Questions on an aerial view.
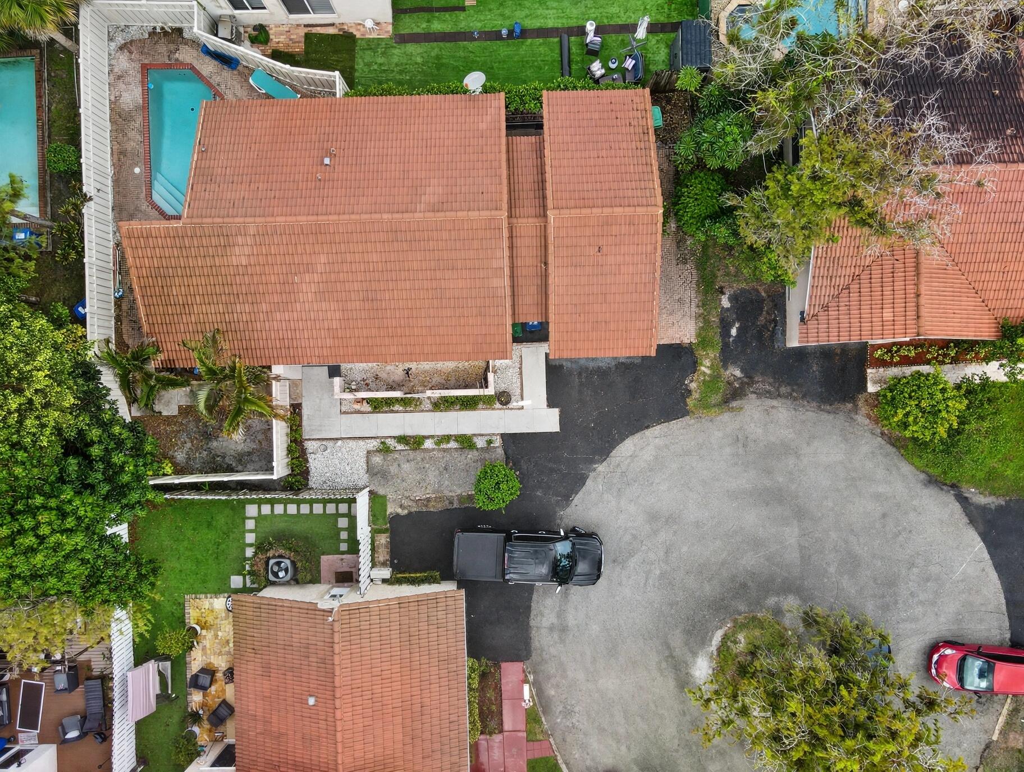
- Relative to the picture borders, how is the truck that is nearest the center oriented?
from side to side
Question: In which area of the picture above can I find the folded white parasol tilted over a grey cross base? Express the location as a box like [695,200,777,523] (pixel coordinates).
[622,16,648,50]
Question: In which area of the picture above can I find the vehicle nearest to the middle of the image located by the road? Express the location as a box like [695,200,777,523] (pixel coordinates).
[452,523,607,596]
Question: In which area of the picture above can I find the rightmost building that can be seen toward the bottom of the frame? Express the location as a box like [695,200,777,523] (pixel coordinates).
[175,581,466,772]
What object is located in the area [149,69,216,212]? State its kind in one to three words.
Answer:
swimming pool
